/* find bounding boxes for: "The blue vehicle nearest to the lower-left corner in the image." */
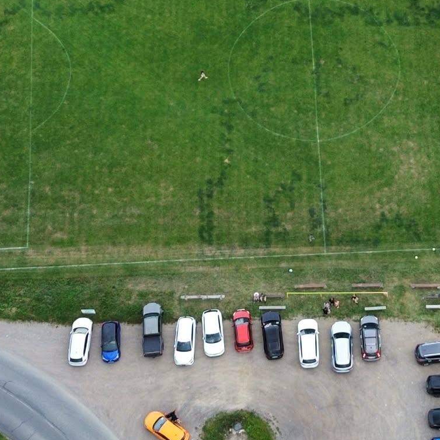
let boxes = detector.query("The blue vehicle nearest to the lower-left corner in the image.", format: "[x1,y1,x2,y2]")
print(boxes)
[100,322,123,365]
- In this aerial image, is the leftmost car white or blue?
white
